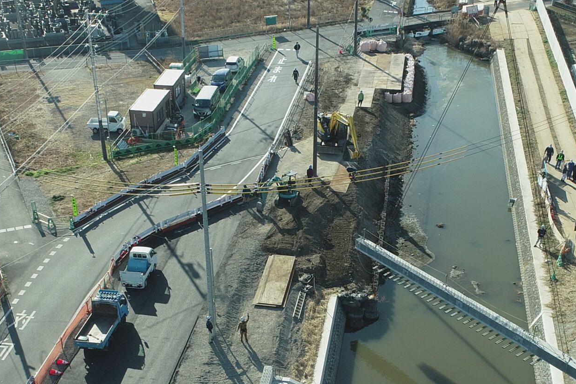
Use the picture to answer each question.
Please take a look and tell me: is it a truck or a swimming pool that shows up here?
truck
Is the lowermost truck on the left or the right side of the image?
left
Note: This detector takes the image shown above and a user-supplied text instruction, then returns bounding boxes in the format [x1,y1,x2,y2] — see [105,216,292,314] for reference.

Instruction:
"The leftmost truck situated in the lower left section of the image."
[72,282,131,347]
